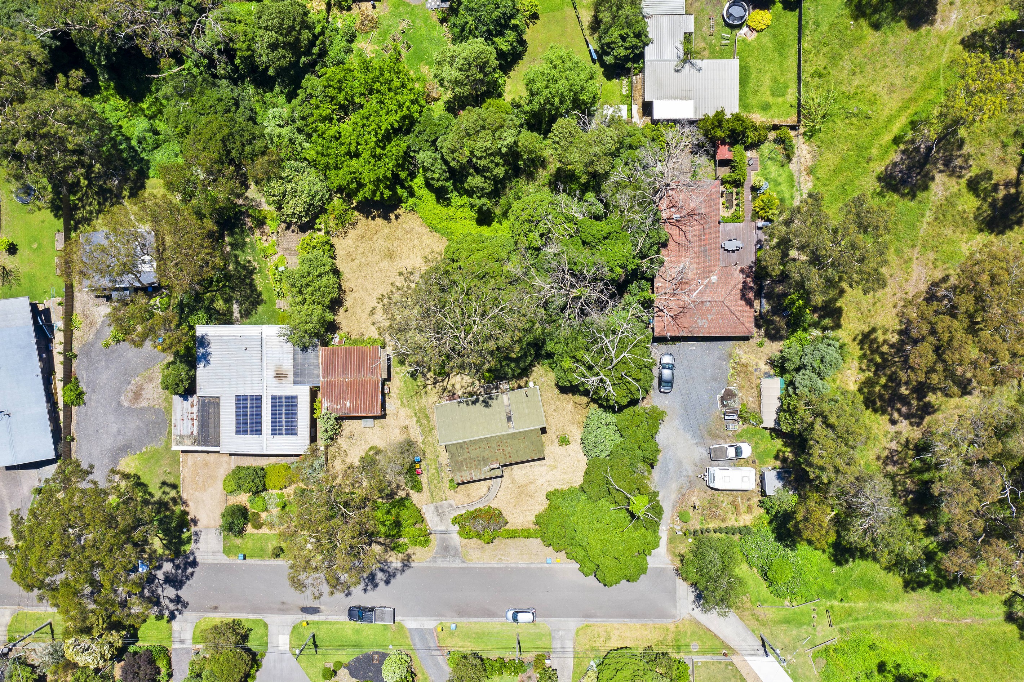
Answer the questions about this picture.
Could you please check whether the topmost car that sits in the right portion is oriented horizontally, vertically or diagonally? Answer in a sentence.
Seen from above, the topmost car that sits in the right portion lies vertically.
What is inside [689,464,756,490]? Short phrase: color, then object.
white camper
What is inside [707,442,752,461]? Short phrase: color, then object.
white vehicle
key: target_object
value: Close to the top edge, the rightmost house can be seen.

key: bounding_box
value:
[642,0,739,125]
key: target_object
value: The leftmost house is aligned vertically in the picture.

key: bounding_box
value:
[0,296,69,465]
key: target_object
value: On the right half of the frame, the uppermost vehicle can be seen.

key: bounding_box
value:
[656,352,676,395]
